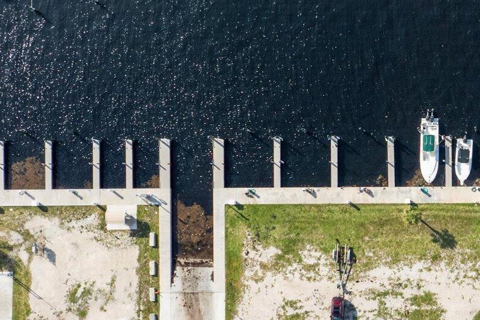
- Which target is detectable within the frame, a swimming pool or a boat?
boat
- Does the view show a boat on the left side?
No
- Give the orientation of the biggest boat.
vertically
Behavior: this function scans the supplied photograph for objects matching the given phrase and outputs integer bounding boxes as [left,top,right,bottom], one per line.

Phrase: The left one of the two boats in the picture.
[419,109,441,184]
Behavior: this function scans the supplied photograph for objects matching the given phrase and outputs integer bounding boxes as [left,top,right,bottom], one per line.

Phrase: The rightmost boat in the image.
[454,133,473,184]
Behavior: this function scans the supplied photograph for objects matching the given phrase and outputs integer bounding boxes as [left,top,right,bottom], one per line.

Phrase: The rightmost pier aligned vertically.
[442,136,455,187]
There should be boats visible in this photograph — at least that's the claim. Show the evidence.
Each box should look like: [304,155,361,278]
[419,109,441,184]
[454,133,473,184]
